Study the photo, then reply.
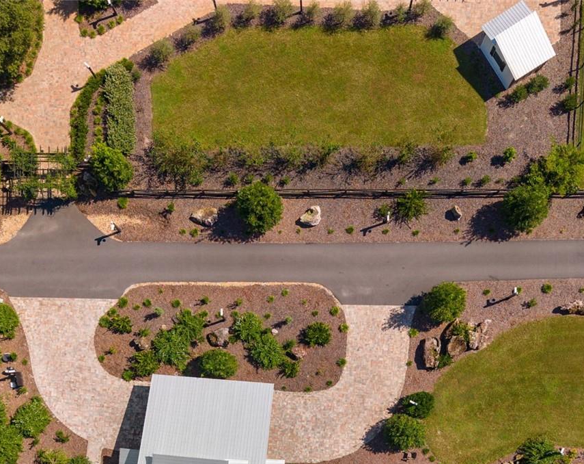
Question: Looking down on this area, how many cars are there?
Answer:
zero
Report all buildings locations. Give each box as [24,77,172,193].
[480,0,556,88]
[119,373,286,464]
